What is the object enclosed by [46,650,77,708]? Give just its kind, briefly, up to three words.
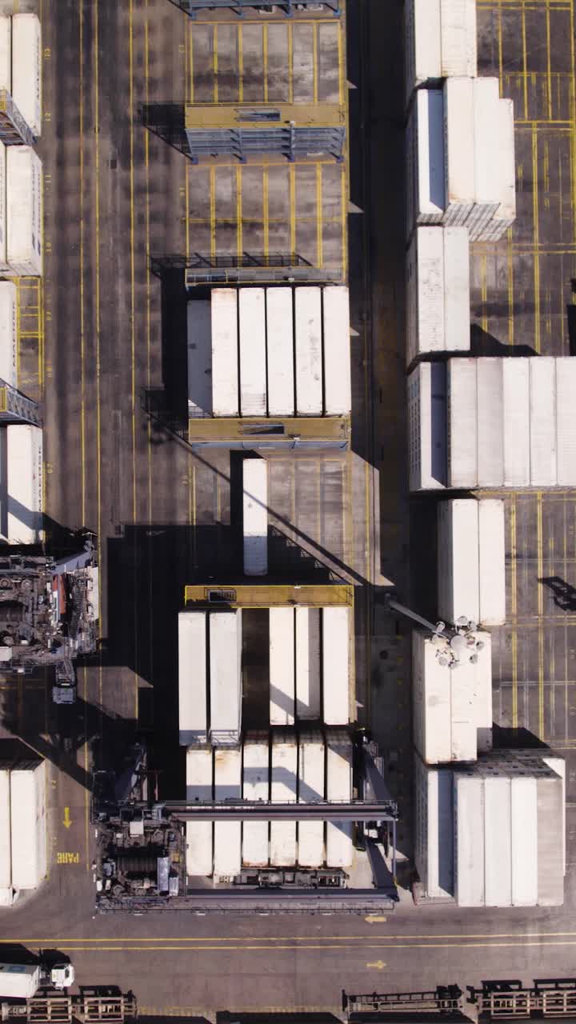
truck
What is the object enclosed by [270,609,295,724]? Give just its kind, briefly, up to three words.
shipping container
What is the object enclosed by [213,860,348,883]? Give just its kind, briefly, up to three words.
trailer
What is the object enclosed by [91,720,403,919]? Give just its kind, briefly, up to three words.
container crane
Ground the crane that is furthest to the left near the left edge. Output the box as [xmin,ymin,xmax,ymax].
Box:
[0,527,102,672]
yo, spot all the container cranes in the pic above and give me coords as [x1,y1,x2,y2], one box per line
[0,527,102,672]
[91,720,403,919]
